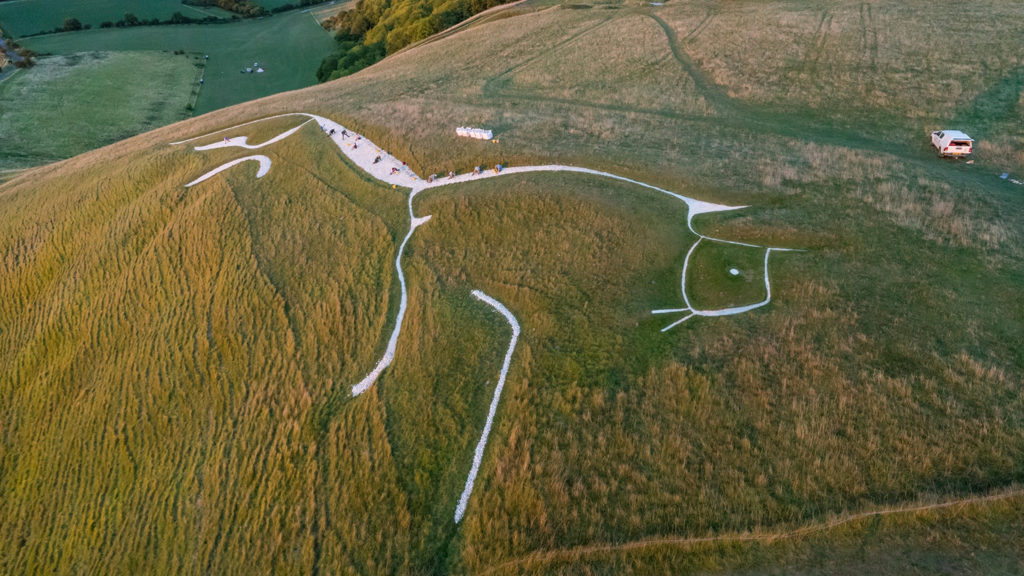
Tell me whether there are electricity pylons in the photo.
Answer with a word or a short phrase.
No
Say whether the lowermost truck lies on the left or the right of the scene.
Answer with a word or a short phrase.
right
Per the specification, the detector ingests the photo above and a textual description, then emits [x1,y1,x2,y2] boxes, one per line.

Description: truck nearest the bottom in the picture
[932,123,976,158]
